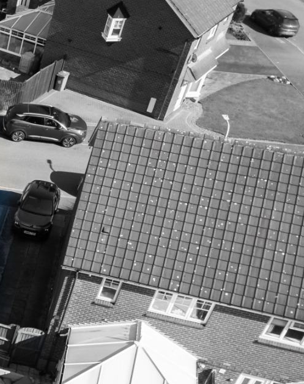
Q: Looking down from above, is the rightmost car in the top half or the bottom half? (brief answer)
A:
top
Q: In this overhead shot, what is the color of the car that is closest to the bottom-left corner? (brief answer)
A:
black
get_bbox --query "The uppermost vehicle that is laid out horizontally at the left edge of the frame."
[4,103,88,149]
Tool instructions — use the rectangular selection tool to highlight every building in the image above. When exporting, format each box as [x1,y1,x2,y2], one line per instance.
[45,121,304,384]
[45,0,224,117]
